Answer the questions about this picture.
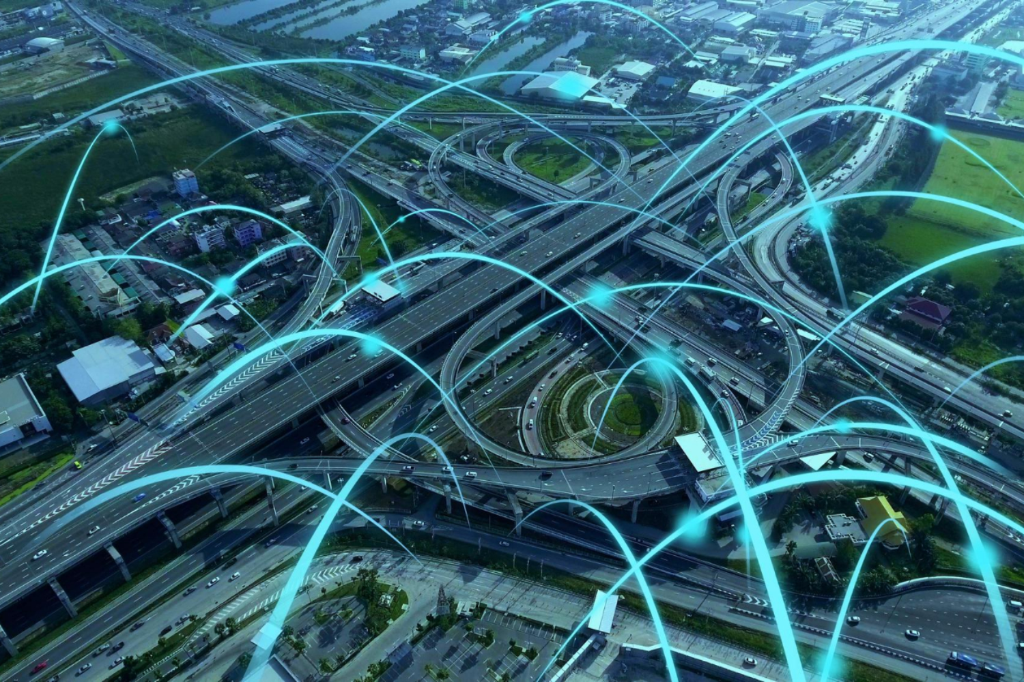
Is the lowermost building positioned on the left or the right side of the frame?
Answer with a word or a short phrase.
left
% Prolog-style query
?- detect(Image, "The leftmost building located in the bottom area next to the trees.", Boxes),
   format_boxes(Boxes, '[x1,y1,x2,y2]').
[0,371,52,468]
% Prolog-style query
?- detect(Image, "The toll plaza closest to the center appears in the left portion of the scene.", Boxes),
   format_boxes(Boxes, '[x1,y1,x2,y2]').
[362,281,402,309]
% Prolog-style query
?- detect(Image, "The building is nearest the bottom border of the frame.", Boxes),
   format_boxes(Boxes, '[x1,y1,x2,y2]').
[233,654,303,682]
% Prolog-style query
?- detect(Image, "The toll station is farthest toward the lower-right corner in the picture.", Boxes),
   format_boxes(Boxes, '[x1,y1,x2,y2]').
[674,432,724,479]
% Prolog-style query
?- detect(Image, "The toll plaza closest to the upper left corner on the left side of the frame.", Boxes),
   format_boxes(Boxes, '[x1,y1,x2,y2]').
[258,124,286,141]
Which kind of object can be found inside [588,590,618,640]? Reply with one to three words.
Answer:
toll station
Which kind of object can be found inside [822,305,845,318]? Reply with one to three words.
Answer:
vehicle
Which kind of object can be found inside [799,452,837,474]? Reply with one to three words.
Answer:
shed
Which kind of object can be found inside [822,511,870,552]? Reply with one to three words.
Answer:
house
